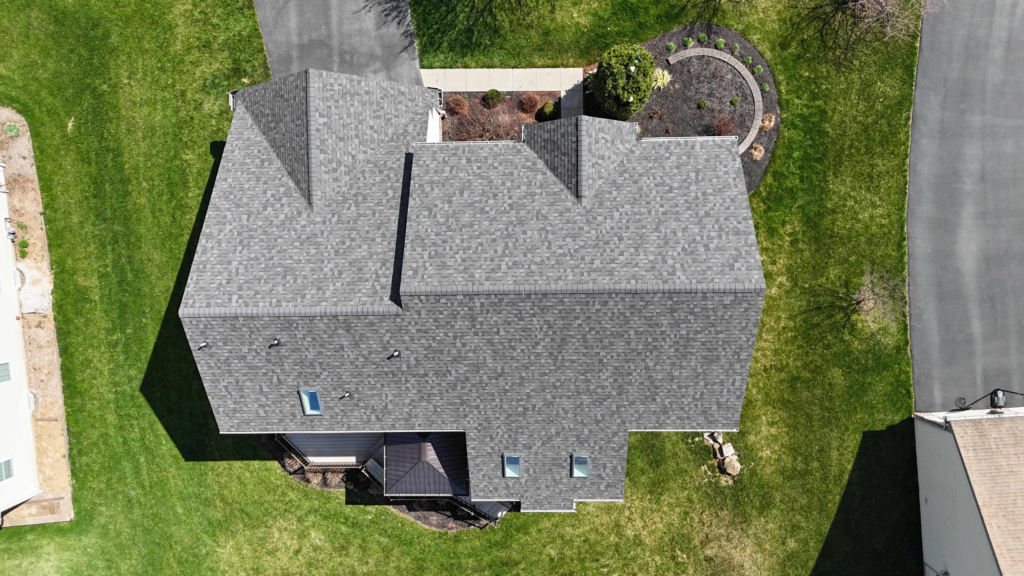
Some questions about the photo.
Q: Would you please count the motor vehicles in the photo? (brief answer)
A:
0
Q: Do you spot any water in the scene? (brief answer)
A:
No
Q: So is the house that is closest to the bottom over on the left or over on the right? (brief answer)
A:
right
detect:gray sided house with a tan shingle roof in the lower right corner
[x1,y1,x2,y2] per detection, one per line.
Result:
[909,408,1024,576]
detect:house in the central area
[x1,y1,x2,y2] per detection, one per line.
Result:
[178,68,766,514]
